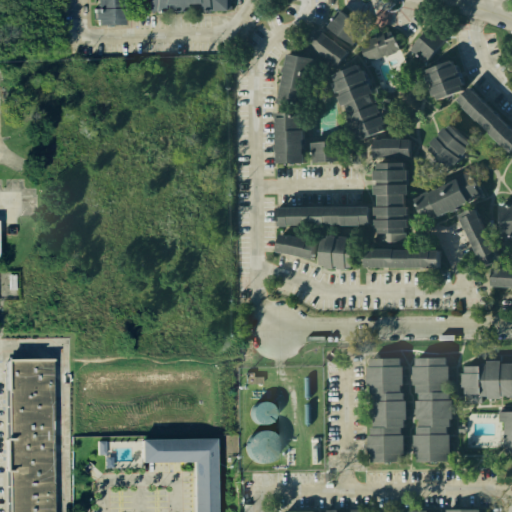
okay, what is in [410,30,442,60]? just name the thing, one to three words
building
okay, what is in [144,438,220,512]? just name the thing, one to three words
building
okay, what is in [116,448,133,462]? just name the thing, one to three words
swimming pool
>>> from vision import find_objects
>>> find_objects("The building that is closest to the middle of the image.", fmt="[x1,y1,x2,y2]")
[270,235,316,260]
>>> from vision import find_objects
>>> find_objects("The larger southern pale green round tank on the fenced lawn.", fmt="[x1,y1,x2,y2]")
[245,429,282,464]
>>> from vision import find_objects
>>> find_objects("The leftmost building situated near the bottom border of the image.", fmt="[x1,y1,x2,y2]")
[6,359,56,512]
